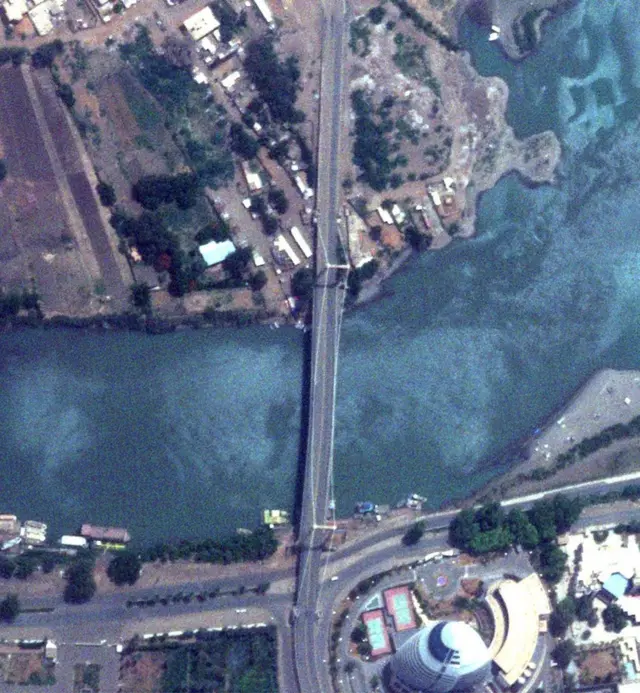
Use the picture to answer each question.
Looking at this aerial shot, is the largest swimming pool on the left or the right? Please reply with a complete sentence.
You can find the largest swimming pool on the right side of the picture.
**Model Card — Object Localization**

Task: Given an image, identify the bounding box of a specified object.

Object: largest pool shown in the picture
[603,573,628,598]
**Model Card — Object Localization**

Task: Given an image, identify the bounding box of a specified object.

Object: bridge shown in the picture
[293,0,350,693]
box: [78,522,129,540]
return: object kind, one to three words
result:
ship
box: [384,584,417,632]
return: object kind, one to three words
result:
tennis court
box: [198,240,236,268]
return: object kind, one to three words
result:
house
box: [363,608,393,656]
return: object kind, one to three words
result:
tennis court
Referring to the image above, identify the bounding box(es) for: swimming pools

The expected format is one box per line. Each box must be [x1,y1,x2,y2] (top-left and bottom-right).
[603,573,628,598]
[626,665,635,679]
